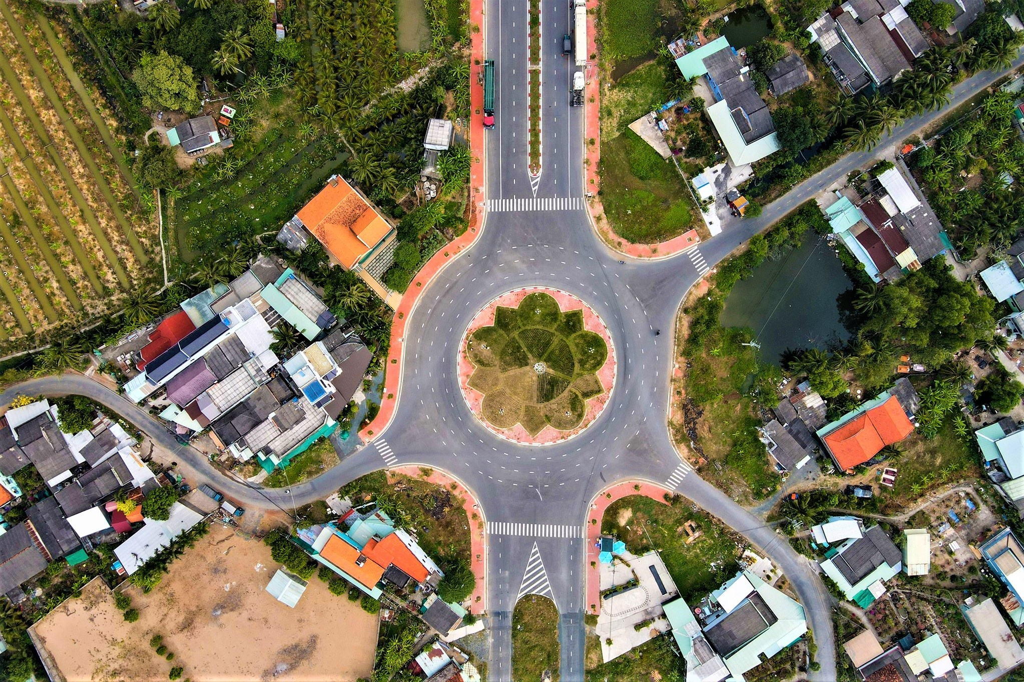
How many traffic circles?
1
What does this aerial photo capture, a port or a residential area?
residential area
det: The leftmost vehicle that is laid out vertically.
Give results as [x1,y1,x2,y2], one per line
[482,58,496,130]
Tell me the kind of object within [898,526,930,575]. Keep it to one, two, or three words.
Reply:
house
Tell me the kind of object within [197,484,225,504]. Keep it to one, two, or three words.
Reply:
vehicle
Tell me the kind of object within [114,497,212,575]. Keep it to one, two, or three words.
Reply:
building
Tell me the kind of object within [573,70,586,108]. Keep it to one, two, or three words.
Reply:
vehicle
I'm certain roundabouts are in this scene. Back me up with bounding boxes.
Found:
[459,287,616,444]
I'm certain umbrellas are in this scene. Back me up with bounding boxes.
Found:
[613,541,625,554]
[599,552,612,564]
